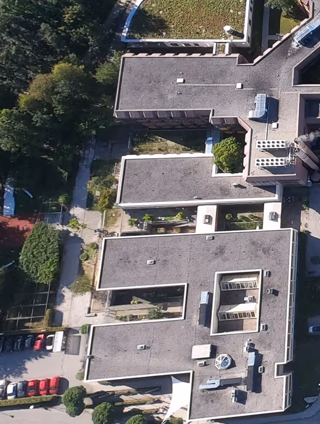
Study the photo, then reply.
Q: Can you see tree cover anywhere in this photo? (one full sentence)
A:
Yes, there's tree cover in this view.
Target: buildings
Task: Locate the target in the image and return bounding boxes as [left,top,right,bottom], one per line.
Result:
[85,229,304,422]
[115,0,320,185]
